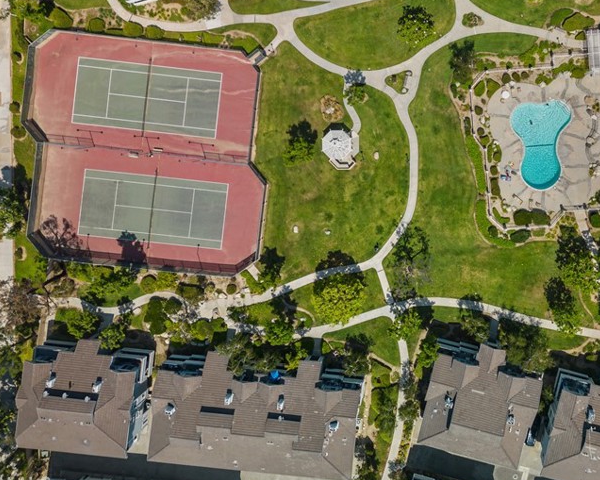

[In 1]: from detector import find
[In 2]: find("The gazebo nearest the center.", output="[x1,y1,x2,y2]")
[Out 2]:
[322,129,359,170]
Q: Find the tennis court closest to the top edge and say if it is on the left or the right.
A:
left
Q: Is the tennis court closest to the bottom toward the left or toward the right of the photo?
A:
left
